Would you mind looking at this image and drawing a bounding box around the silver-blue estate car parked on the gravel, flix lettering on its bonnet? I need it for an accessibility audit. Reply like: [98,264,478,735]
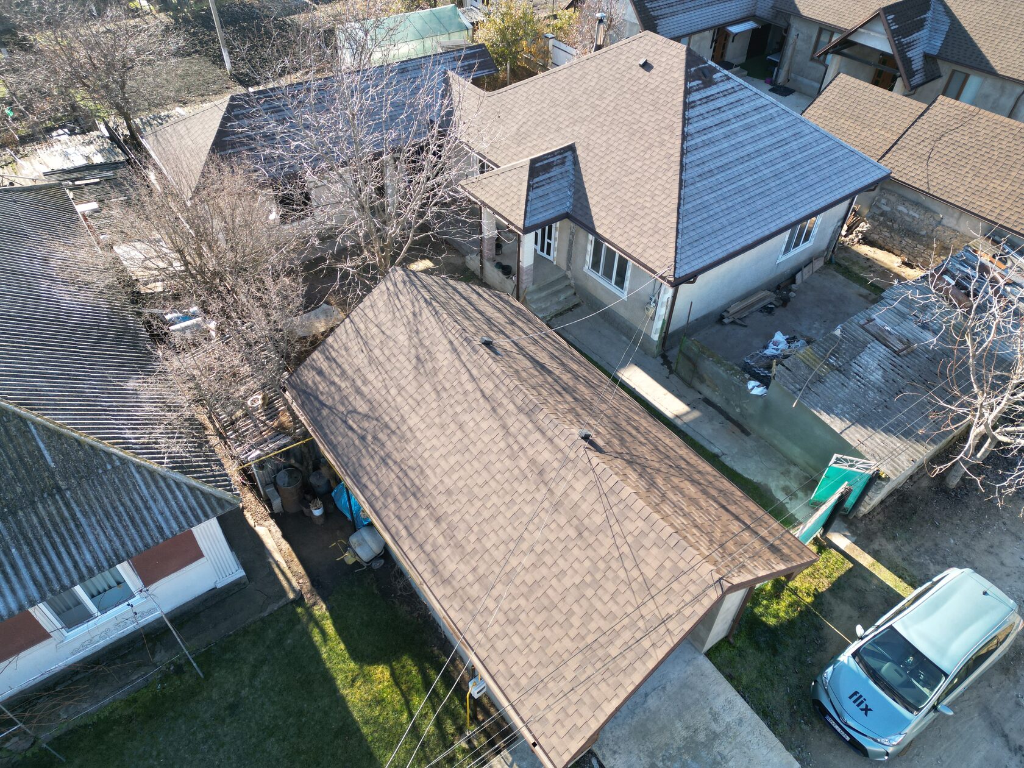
[808,567,1021,764]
